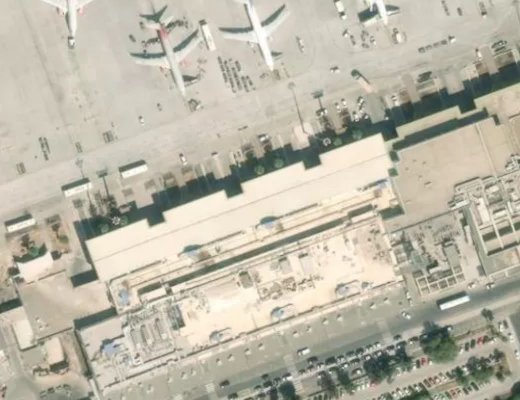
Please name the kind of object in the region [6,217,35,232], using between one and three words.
vehicle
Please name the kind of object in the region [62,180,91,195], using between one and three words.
vehicle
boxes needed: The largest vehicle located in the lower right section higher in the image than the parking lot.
[439,293,469,309]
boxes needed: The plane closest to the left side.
[53,0,85,38]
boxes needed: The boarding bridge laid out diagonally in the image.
[352,72,375,94]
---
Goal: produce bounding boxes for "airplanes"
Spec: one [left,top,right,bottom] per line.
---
[224,0,289,69]
[136,14,201,94]
[53,0,85,38]
[377,0,389,24]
